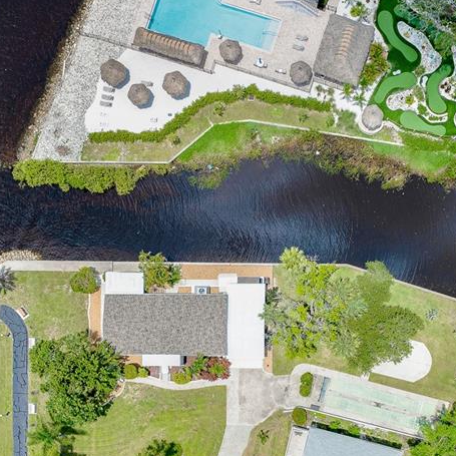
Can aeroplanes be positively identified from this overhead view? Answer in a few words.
No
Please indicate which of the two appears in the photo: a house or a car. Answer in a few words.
house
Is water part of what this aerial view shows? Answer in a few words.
Yes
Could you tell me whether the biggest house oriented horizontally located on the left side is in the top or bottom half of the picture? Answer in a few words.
bottom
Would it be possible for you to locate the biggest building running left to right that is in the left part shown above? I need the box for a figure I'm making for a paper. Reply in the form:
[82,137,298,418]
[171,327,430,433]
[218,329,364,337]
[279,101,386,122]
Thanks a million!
[101,293,228,355]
